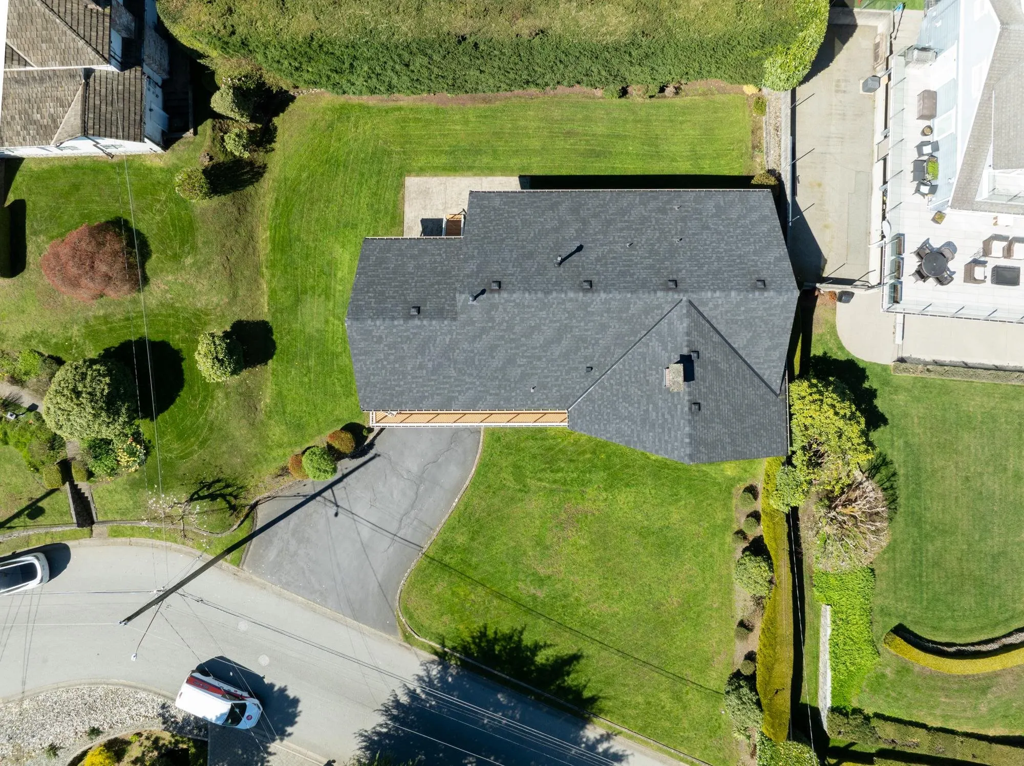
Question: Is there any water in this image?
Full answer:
No, no water is visible.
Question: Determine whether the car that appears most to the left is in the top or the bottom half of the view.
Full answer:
The bottom half of the photo is where the car that appears most to the left is.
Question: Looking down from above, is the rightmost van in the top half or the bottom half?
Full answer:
The rightmost van is in the bottom half of the image.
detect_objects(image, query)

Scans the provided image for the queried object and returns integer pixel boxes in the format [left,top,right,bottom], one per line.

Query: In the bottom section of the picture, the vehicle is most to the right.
[174,672,260,725]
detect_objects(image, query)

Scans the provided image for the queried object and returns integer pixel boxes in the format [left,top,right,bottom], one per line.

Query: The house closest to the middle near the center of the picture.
[346,188,799,464]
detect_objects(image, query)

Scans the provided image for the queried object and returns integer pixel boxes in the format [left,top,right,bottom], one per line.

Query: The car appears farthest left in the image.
[0,559,54,604]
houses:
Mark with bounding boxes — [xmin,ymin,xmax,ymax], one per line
[879,0,1024,327]
[346,188,799,464]
[0,0,164,159]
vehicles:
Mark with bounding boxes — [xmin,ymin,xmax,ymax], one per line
[0,559,54,604]
[174,672,260,725]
